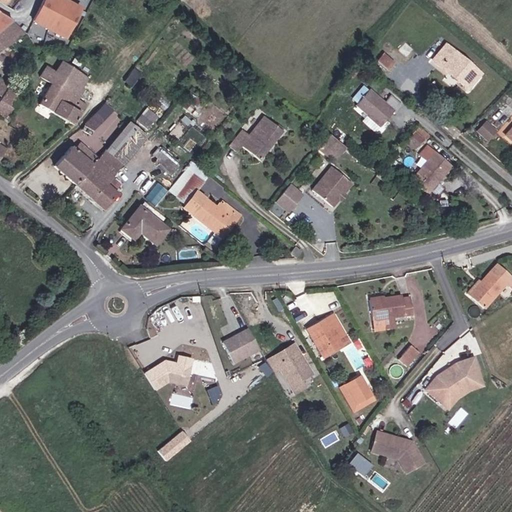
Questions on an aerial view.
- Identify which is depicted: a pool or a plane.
pool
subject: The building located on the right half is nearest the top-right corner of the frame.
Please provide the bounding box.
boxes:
[428,42,484,94]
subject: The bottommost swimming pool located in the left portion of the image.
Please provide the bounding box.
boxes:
[178,249,200,261]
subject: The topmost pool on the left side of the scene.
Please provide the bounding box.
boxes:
[190,223,210,243]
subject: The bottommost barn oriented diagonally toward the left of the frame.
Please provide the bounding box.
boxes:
[157,432,192,462]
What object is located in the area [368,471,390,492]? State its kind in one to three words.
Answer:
swimming pool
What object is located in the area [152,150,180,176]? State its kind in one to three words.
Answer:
building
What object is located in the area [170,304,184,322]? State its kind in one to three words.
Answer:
vehicle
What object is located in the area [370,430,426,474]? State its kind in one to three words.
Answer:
house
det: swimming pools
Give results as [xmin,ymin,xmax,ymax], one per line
[178,249,200,261]
[190,223,210,243]
[320,430,340,448]
[403,155,415,168]
[389,363,404,378]
[368,471,390,492]
[344,344,364,371]
[467,304,480,318]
